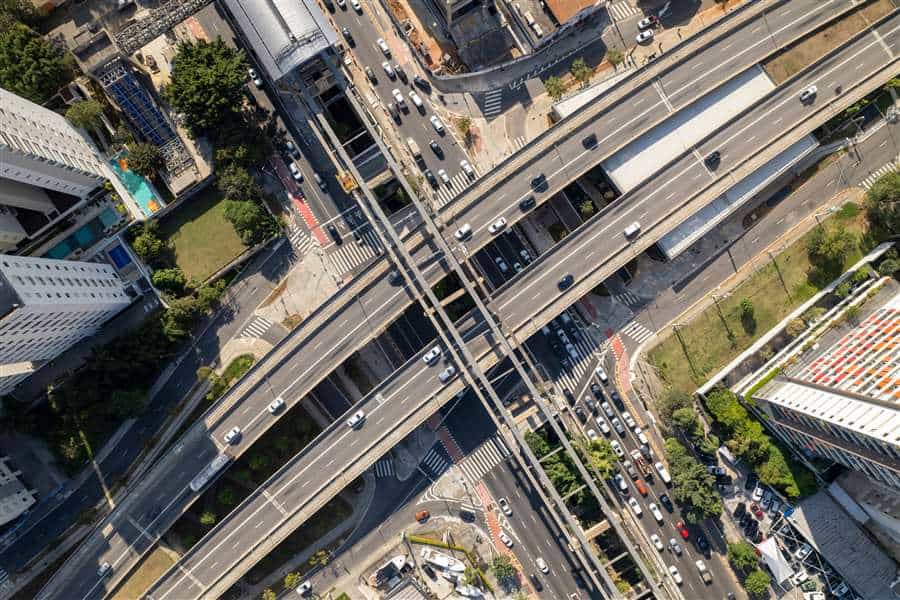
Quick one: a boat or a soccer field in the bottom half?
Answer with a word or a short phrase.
boat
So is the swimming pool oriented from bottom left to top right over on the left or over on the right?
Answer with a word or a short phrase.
left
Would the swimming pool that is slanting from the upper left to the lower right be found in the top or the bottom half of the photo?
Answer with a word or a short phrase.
top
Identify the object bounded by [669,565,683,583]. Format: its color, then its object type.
white car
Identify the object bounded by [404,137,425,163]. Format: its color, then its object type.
white truck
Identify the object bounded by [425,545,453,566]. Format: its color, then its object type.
white boat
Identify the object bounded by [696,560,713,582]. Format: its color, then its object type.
white vehicle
